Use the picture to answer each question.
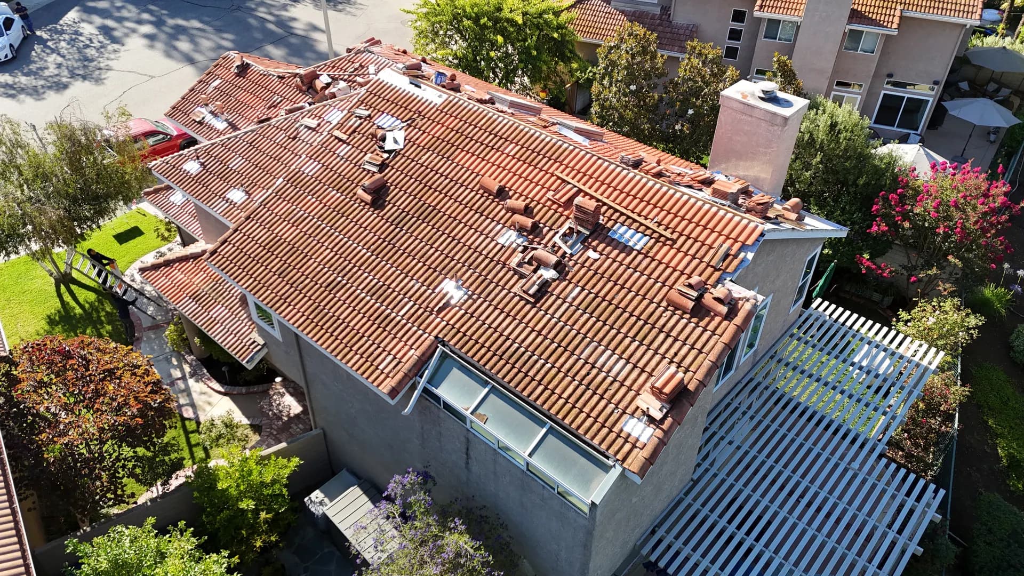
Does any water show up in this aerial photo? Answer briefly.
No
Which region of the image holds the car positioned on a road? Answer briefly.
top left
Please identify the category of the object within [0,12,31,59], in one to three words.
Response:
car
